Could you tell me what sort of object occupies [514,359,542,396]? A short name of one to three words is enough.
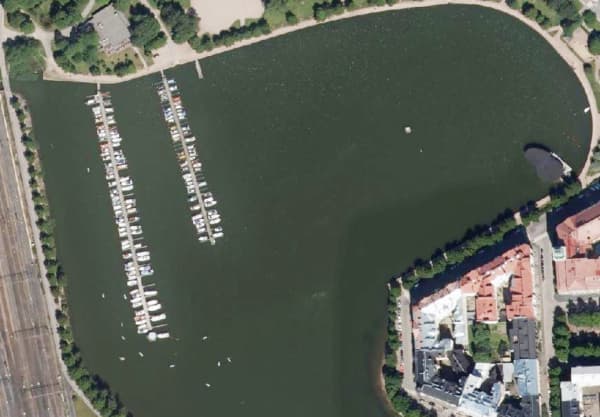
house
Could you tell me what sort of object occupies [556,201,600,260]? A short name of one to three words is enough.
house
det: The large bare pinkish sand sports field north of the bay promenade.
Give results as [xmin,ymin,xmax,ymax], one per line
[190,0,262,33]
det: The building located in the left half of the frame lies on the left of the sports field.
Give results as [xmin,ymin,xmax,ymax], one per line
[93,5,132,50]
